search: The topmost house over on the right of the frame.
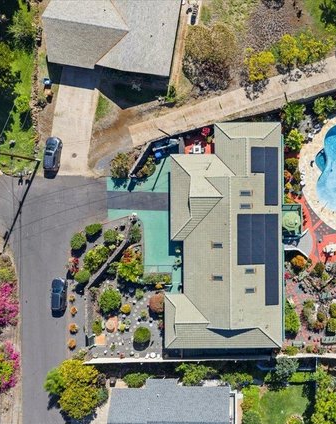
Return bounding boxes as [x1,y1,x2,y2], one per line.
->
[164,122,283,358]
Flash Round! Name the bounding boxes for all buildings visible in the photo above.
[108,378,245,424]
[164,122,283,358]
[42,0,183,74]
